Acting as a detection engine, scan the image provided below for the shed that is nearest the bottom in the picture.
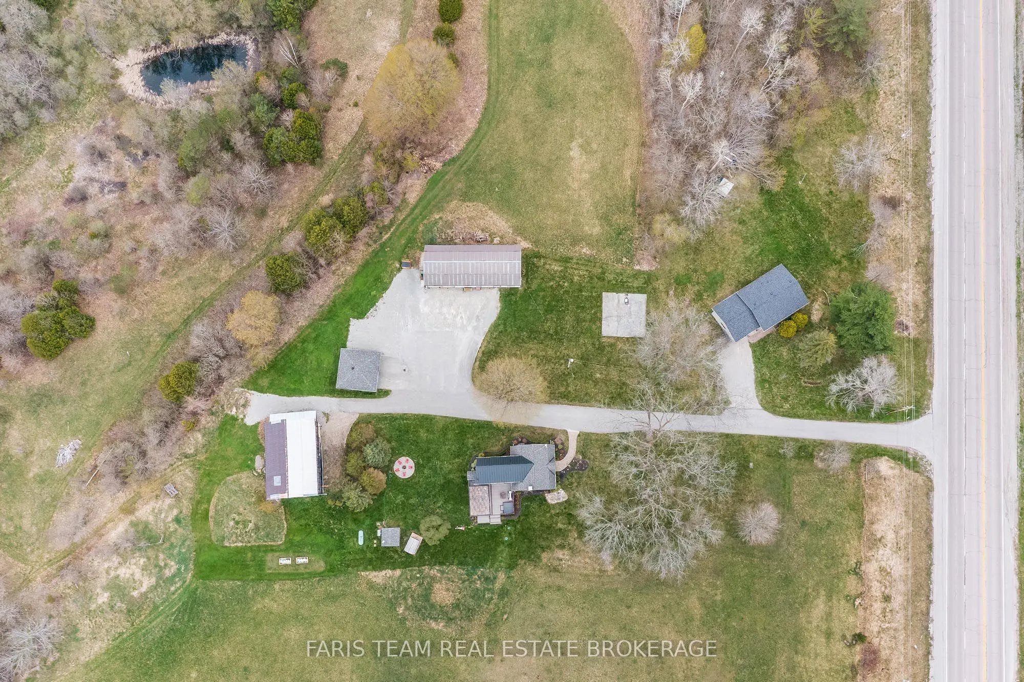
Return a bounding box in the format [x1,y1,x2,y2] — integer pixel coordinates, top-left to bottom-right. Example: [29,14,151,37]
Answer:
[381,527,401,547]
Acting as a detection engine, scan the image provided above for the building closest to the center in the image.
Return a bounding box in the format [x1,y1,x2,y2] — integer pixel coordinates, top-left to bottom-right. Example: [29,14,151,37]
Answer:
[418,245,521,289]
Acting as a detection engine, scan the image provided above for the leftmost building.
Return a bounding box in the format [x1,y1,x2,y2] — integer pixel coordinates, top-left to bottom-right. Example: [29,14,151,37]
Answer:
[265,410,327,500]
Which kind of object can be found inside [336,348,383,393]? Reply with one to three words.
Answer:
building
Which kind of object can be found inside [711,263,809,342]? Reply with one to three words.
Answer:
house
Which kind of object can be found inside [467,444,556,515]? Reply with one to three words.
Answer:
house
